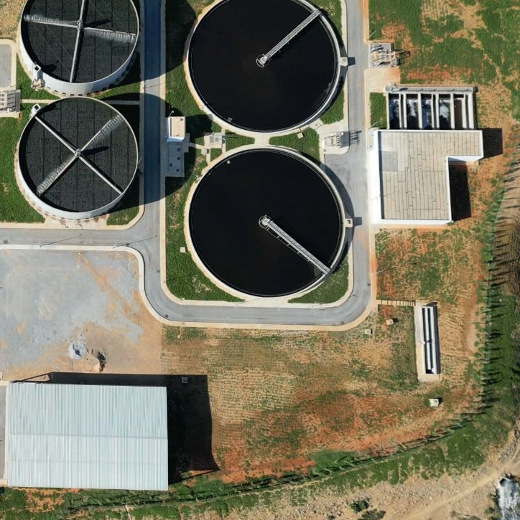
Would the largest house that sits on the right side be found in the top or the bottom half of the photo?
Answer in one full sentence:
The largest house that sits on the right side sits in the top half of the picture.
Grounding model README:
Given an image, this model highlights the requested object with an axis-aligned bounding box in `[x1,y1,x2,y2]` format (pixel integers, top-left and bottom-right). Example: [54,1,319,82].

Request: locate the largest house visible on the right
[369,130,483,224]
